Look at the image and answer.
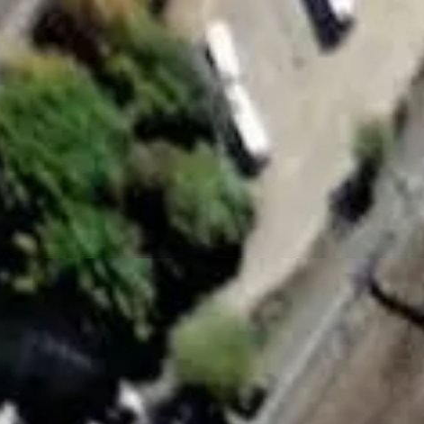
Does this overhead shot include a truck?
Yes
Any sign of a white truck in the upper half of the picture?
Yes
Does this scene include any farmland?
No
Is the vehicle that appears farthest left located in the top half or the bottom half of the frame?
bottom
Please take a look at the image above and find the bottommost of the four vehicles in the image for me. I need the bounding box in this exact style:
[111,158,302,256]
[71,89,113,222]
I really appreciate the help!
[120,383,144,416]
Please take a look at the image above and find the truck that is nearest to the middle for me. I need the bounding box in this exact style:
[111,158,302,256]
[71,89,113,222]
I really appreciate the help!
[222,79,269,153]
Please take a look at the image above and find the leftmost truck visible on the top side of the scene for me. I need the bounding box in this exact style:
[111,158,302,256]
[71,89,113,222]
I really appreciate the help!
[204,27,241,80]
